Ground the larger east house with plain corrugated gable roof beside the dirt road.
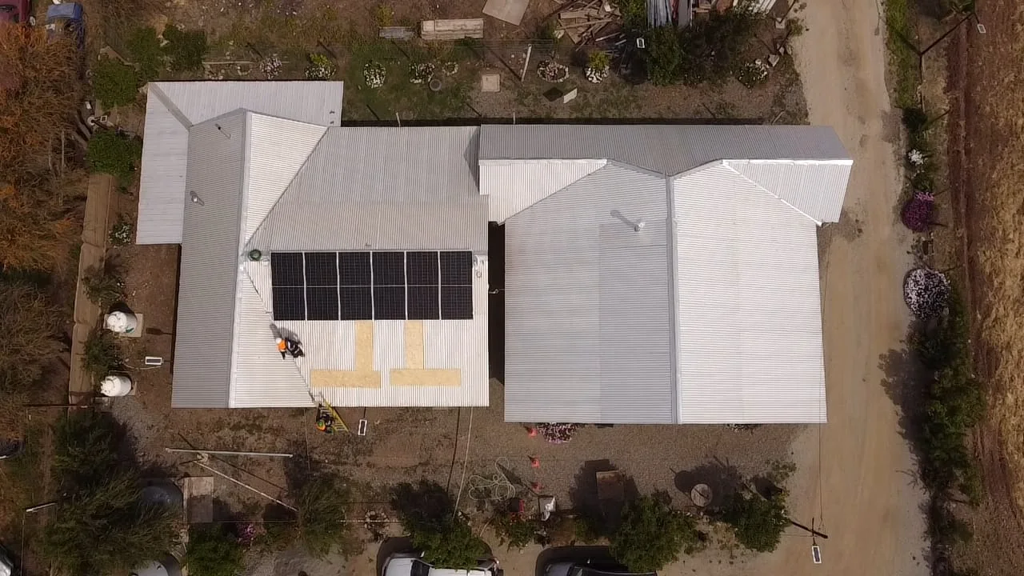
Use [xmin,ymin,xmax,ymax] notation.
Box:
[479,125,853,423]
